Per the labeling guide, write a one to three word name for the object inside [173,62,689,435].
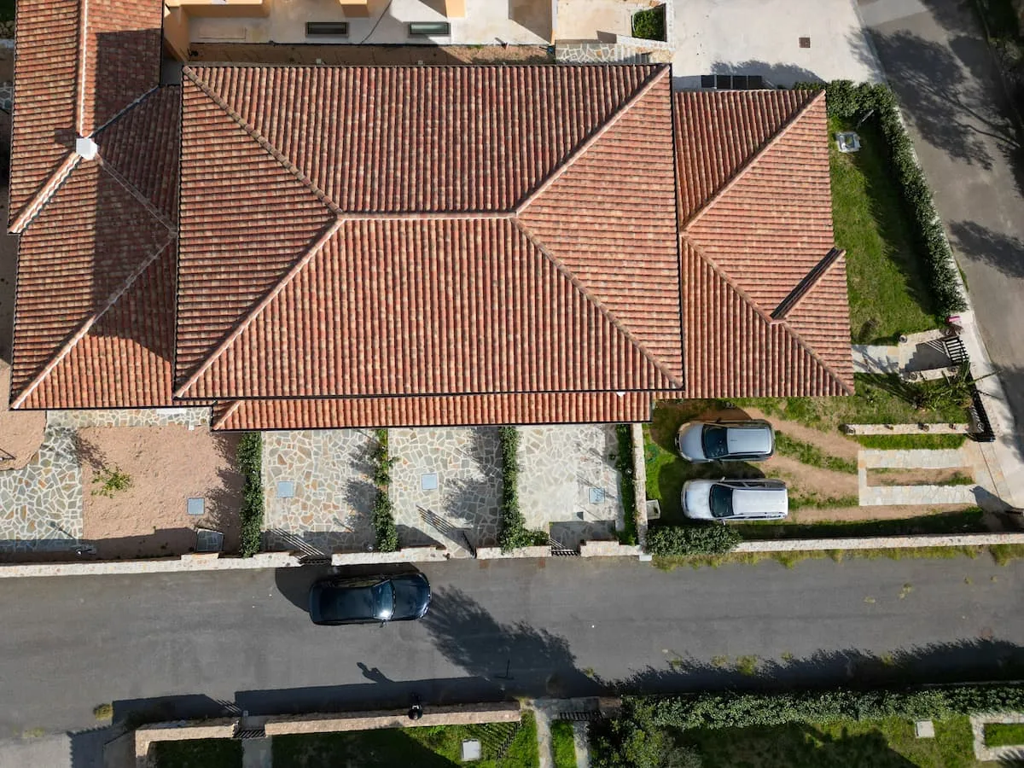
house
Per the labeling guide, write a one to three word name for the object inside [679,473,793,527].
car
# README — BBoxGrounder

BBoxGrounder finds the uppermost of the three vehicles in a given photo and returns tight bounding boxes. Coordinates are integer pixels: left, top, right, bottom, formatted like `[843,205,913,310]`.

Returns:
[675,416,778,467]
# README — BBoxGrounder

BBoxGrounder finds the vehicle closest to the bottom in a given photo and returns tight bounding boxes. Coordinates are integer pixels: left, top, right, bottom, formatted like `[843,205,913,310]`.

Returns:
[310,572,433,629]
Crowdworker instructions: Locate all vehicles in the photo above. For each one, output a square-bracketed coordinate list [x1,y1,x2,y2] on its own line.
[675,416,778,467]
[310,572,433,629]
[679,473,793,527]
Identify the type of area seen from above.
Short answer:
residential area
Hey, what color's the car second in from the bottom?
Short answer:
white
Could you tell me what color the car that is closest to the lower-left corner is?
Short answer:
black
